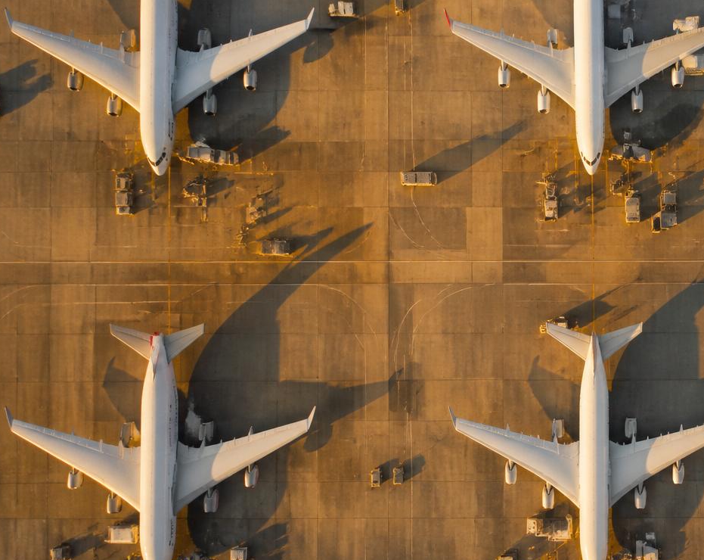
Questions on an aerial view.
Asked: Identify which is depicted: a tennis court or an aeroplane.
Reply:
aeroplane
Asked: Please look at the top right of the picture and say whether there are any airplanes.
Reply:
Yes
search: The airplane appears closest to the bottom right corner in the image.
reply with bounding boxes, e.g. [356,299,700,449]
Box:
[448,325,704,560]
